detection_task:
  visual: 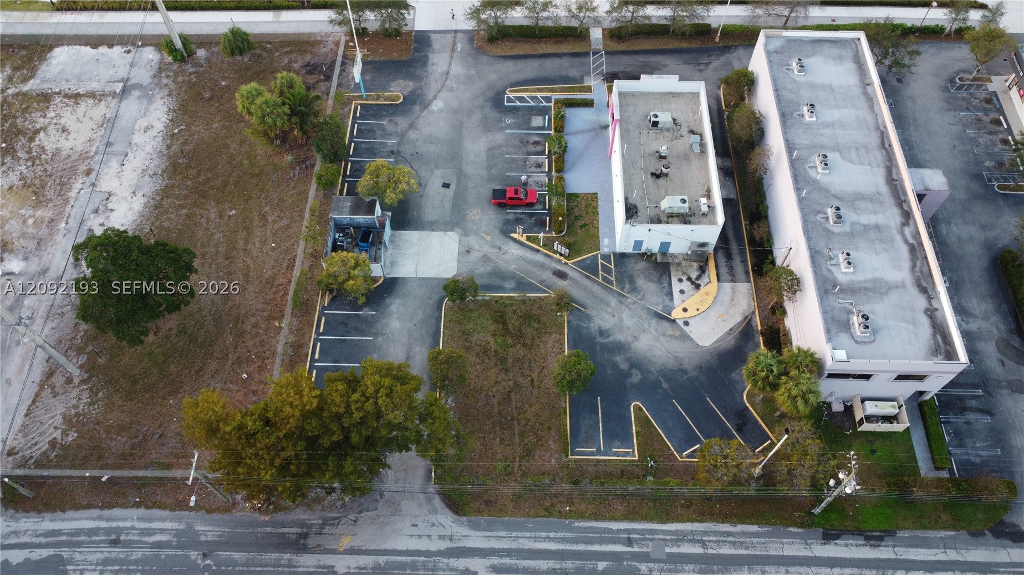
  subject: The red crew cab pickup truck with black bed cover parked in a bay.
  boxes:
[492,186,538,208]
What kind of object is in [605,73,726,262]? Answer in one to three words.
building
